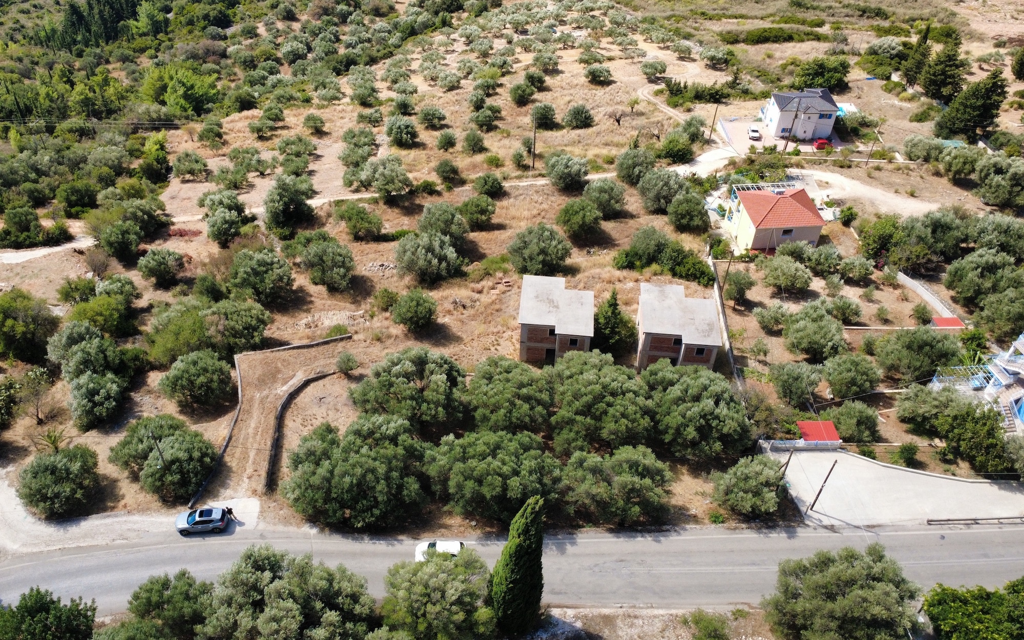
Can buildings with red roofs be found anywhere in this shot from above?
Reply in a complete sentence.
Yes, a building with a red roof appears in the view.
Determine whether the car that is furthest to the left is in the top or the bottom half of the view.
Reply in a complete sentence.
The bottom half of the photo is where the car that is furthest to the left is.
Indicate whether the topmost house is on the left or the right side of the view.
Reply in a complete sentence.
The topmost house is on the right side of the image.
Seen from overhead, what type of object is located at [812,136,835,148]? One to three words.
vehicle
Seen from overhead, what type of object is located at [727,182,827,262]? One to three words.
house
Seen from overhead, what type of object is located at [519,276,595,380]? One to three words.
house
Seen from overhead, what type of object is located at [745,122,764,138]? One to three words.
vehicle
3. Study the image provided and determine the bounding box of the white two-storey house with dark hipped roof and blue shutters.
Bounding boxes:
[754,86,841,138]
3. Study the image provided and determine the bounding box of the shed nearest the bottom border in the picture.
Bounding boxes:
[796,421,839,443]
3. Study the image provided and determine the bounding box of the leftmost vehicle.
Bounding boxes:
[173,504,231,536]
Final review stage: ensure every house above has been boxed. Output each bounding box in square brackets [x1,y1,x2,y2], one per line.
[519,276,595,380]
[727,182,827,262]
[636,283,724,379]
[940,325,1024,424]
[754,86,841,138]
